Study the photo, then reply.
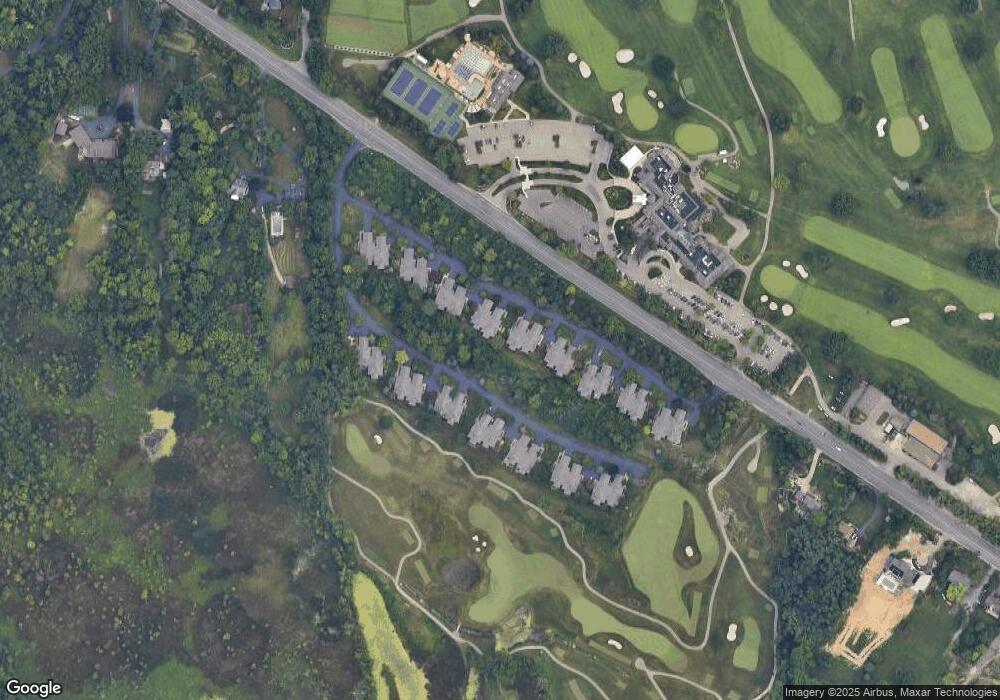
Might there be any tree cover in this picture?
Yes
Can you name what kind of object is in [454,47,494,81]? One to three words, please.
swimming pool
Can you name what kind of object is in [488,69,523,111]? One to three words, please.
building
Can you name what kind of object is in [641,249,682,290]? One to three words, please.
roundabout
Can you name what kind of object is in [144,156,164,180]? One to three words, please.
house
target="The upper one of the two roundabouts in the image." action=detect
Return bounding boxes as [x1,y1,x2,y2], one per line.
[599,177,645,219]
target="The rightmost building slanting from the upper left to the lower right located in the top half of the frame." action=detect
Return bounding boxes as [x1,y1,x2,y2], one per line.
[635,151,738,289]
